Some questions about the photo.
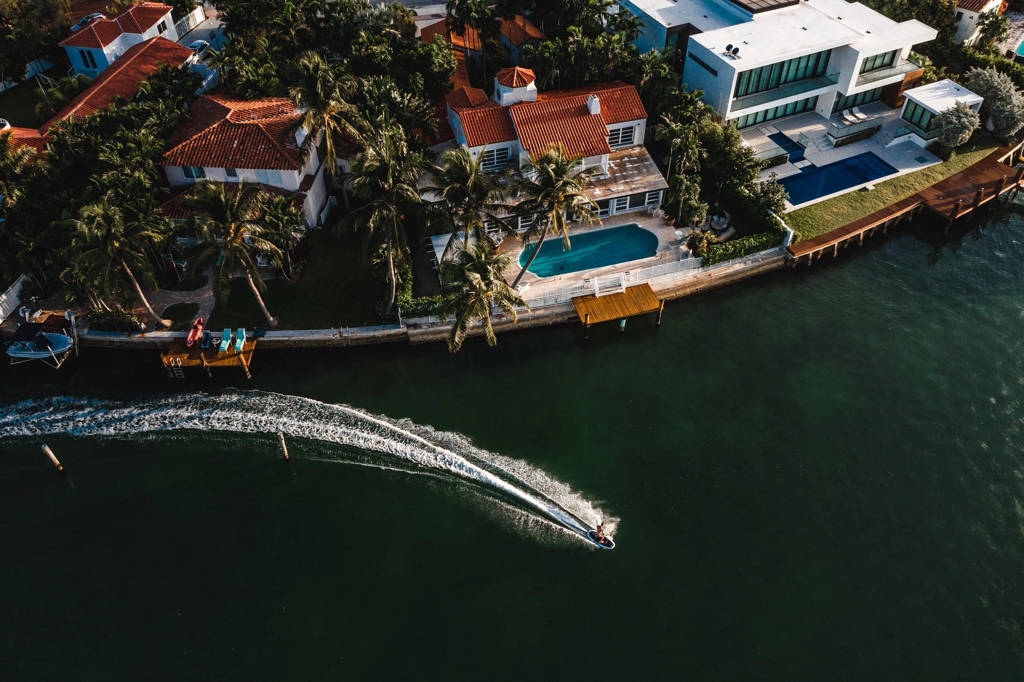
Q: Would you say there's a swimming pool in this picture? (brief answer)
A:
Yes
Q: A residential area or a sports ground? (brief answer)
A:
residential area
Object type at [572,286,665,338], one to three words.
pier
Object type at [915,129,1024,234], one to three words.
pier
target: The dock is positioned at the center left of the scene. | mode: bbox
[161,338,258,380]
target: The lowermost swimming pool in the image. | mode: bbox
[514,220,663,281]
